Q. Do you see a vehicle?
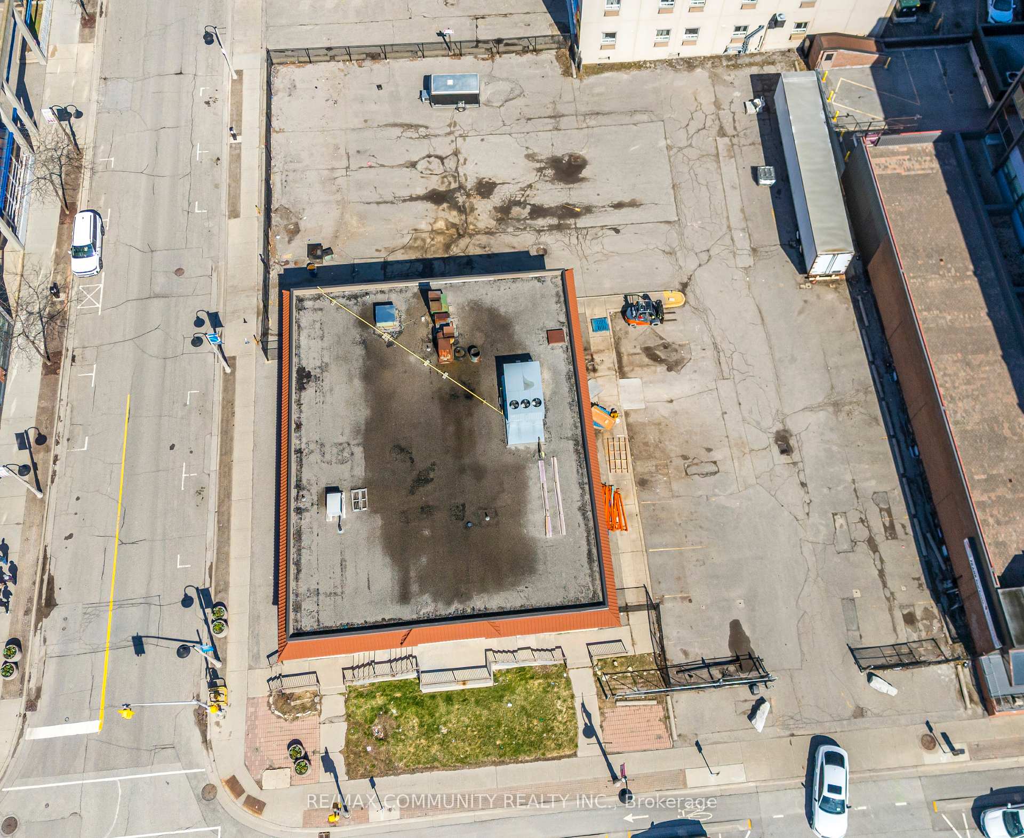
Yes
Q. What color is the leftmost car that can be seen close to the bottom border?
white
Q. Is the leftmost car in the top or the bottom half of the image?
top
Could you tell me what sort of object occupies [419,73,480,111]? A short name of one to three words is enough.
trailer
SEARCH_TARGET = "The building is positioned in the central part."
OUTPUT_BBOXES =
[276,268,622,664]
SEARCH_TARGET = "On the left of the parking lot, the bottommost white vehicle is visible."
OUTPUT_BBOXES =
[63,207,103,276]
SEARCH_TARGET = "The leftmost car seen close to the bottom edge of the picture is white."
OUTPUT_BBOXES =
[809,749,855,838]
